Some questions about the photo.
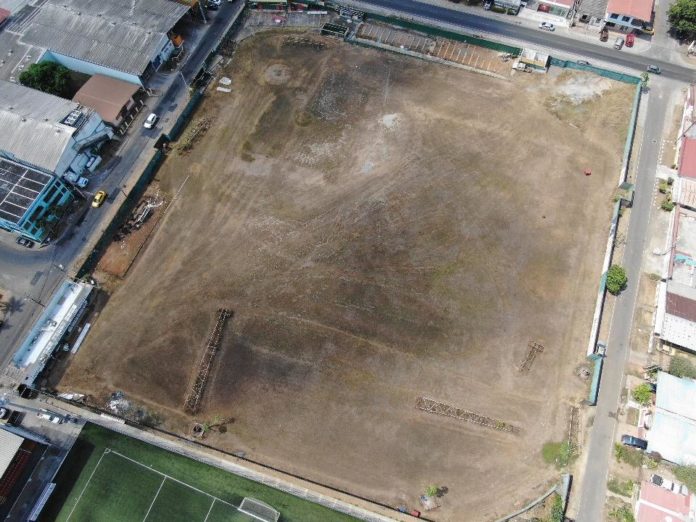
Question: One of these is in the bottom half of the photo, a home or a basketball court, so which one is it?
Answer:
home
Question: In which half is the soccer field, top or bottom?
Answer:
bottom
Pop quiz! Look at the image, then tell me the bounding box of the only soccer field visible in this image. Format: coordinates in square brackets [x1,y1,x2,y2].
[37,421,368,522]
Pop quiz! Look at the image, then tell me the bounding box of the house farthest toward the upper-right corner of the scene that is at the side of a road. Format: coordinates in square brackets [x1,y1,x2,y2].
[598,0,655,42]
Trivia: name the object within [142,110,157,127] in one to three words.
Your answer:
car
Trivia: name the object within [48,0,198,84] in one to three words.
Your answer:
building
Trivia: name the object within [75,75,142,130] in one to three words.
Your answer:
house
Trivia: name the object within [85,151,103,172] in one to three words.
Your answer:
vehicle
